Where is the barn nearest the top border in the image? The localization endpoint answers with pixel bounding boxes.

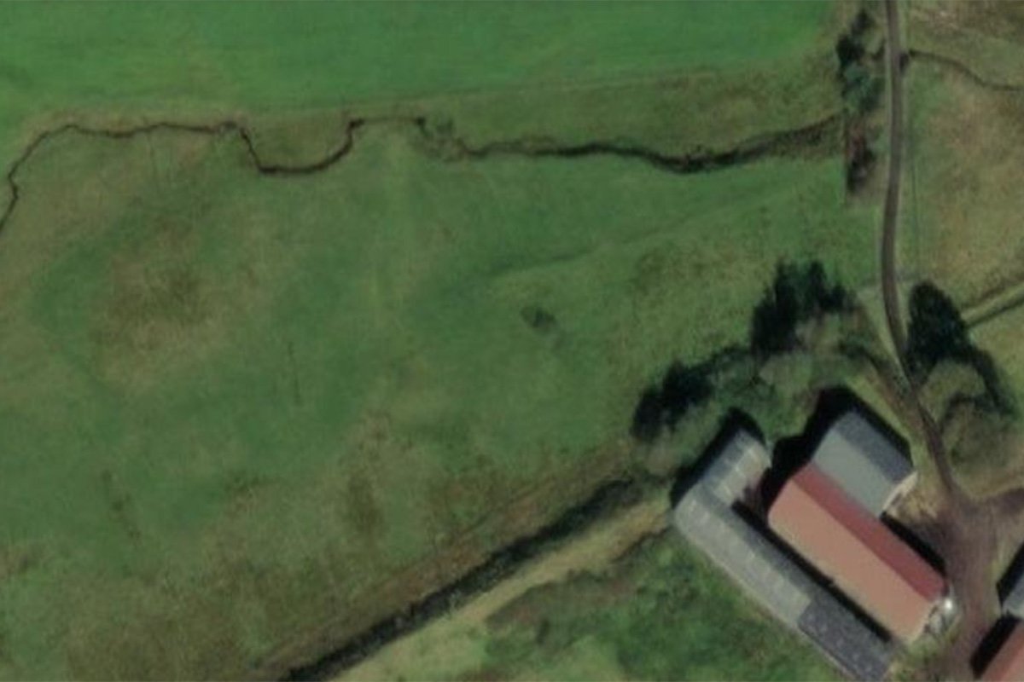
[811,414,918,519]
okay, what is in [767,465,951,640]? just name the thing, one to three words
barn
